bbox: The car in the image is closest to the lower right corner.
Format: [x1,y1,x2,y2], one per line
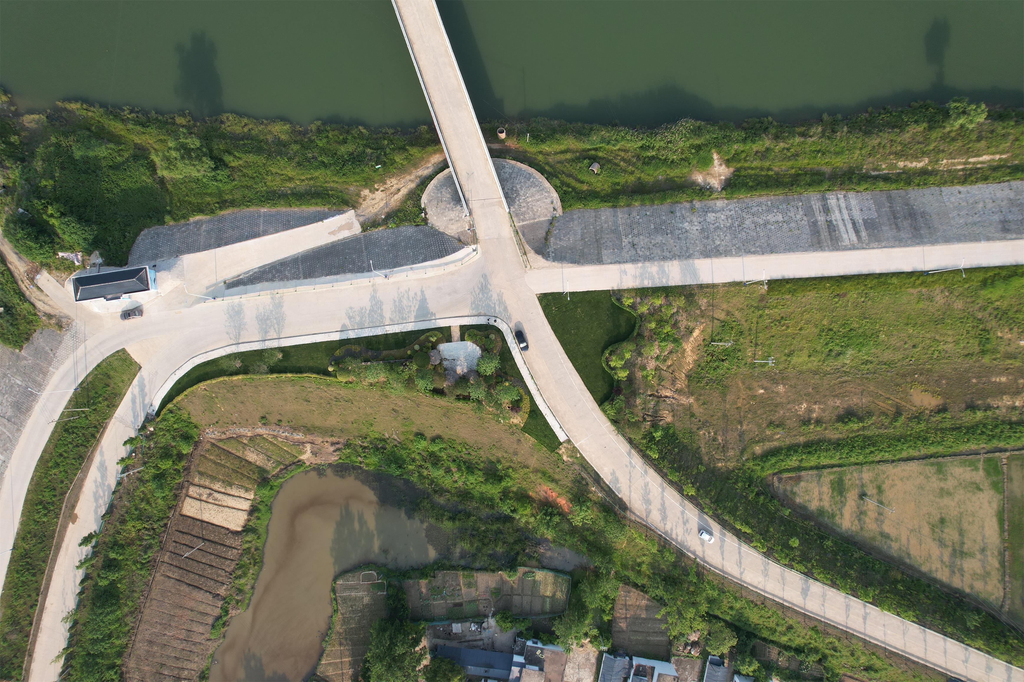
[698,530,717,546]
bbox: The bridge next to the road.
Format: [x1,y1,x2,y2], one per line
[392,0,508,216]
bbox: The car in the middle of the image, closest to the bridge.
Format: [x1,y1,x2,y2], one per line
[515,330,529,352]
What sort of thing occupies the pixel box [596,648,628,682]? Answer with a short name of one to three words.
house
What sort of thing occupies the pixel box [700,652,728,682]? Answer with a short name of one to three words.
house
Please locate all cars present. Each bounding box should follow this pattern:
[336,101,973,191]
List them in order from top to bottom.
[118,308,142,319]
[515,330,529,352]
[698,530,717,546]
